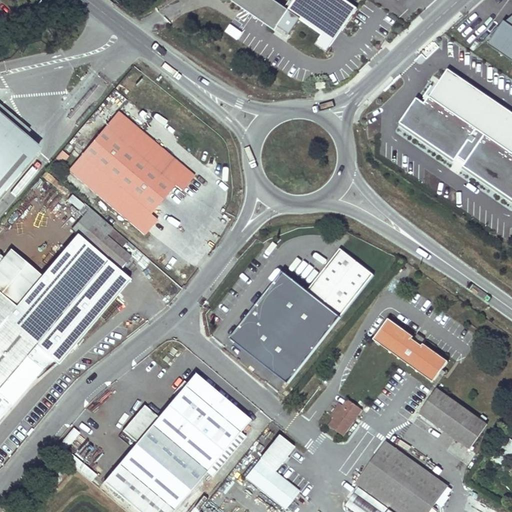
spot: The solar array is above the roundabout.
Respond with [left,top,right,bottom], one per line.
[292,0,354,37]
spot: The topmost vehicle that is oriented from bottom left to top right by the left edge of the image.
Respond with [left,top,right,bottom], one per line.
[10,162,40,197]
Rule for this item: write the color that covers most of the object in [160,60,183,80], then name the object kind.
white vehicle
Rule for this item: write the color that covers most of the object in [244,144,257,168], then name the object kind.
white vehicle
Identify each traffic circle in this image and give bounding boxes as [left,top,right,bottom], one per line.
[243,102,355,212]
